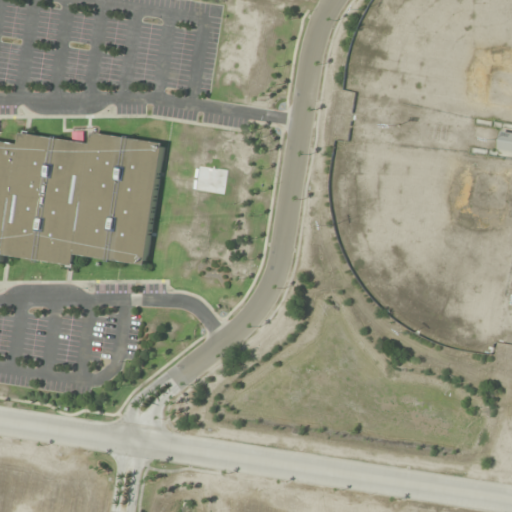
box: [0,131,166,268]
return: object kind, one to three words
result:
building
